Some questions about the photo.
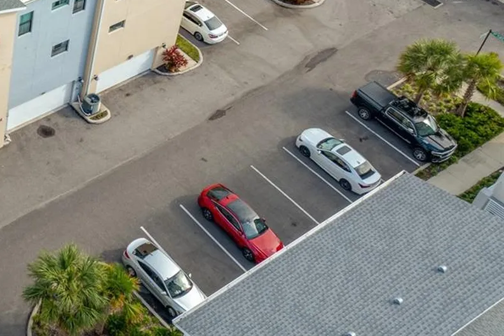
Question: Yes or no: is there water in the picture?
No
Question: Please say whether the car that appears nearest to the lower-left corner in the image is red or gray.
gray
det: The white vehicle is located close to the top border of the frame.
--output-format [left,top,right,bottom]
[185,0,232,45]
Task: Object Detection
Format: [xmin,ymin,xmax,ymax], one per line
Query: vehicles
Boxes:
[198,186,285,265]
[123,237,205,318]
[346,85,459,170]
[185,0,232,45]
[297,132,385,198]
